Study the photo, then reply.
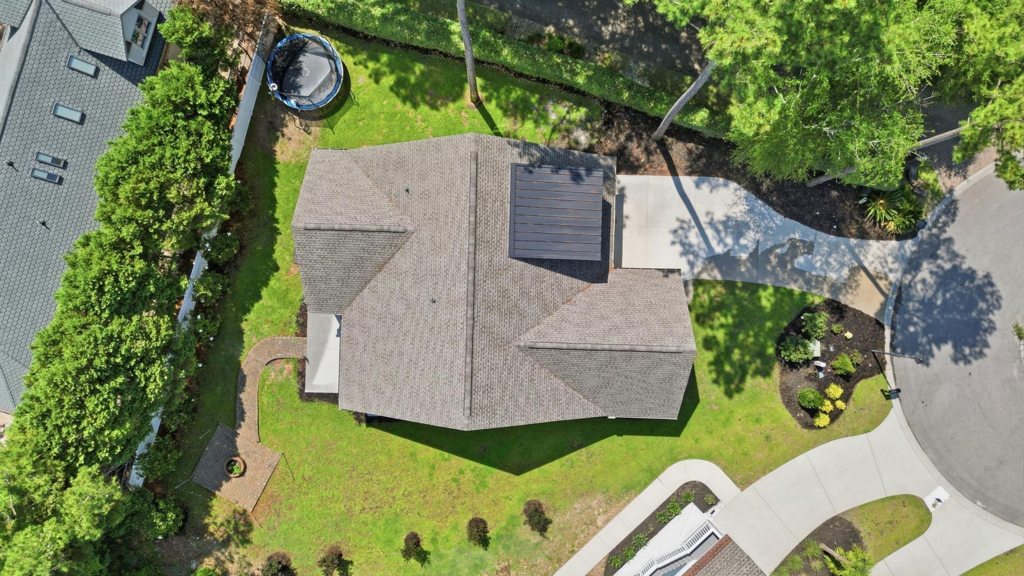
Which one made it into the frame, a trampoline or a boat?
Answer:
trampoline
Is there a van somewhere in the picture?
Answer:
No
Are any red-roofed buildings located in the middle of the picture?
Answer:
No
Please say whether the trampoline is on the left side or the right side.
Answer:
left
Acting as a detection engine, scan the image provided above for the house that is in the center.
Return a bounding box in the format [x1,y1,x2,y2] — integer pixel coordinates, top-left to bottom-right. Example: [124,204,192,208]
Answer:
[291,132,696,431]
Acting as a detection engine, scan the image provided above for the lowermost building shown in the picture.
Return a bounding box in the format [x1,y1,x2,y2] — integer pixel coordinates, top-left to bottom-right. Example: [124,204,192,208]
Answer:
[613,502,763,576]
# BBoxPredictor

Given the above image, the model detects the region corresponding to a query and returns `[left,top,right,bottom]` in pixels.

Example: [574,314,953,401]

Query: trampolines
[258,25,347,114]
